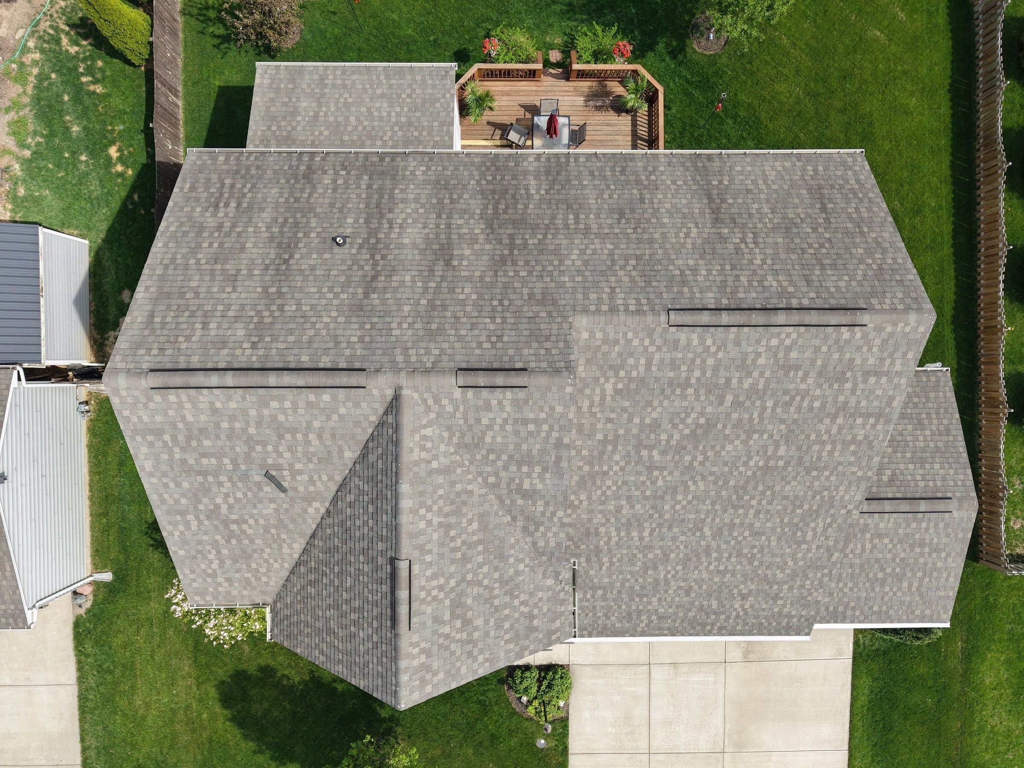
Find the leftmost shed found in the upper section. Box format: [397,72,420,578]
[0,219,89,369]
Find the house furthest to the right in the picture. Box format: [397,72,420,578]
[102,60,978,713]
